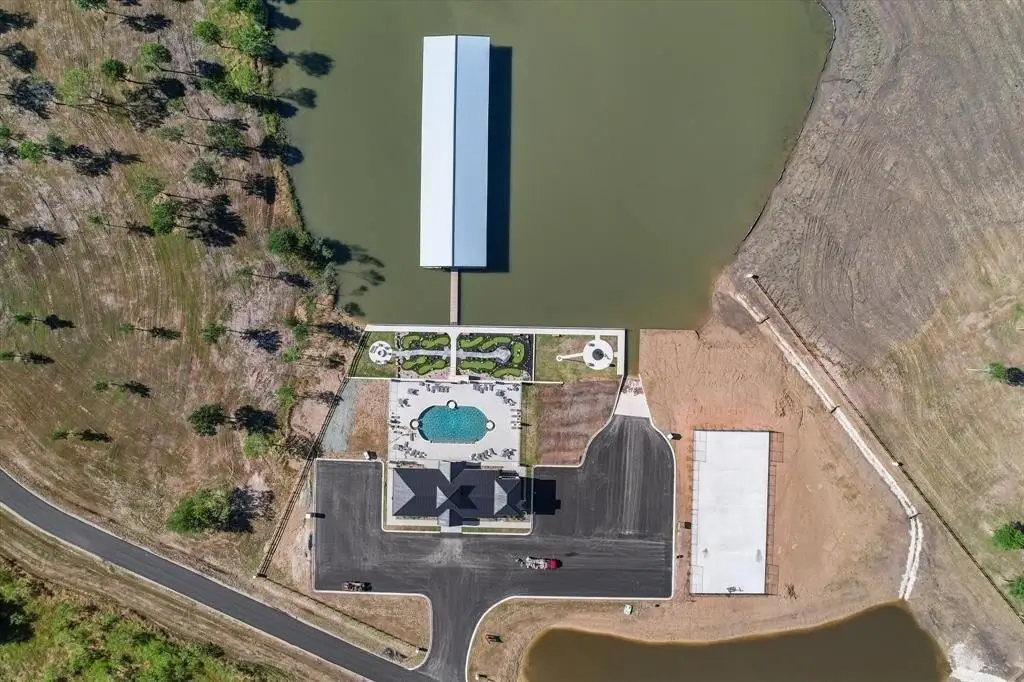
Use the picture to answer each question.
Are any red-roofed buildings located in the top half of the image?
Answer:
No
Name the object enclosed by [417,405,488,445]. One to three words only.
swimming pool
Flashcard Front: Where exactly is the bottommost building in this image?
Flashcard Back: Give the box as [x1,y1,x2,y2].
[393,461,524,527]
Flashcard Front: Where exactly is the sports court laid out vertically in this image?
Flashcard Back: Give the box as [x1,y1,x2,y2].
[690,430,775,600]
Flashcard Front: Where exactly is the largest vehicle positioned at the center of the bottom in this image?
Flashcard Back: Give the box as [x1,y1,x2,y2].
[526,559,558,571]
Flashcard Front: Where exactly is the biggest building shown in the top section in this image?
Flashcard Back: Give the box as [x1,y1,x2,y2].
[420,34,491,269]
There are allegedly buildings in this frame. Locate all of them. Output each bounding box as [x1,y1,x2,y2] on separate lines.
[420,34,491,269]
[393,461,524,527]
